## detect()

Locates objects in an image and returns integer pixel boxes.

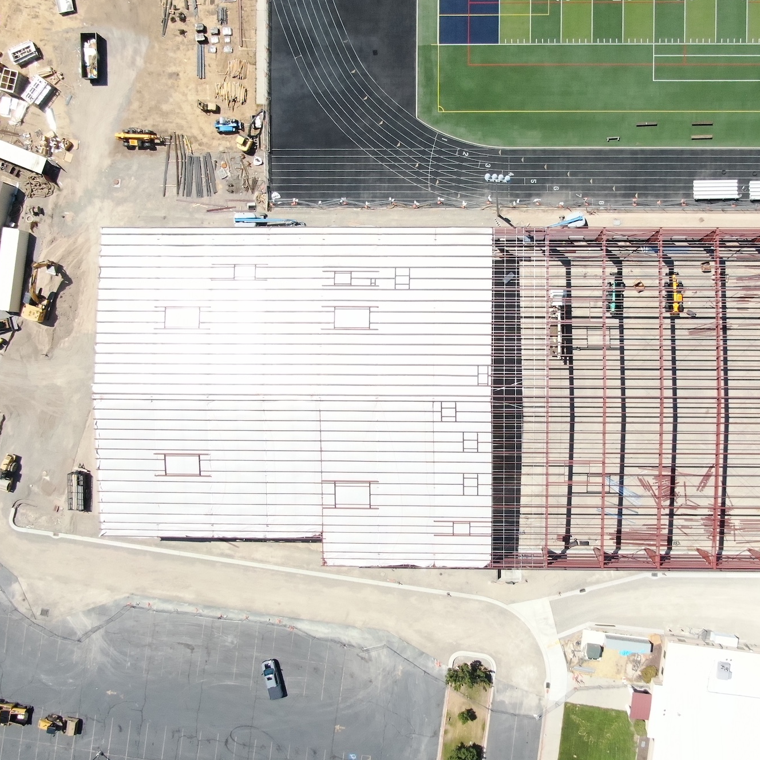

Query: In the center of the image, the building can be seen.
[93,227,760,570]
